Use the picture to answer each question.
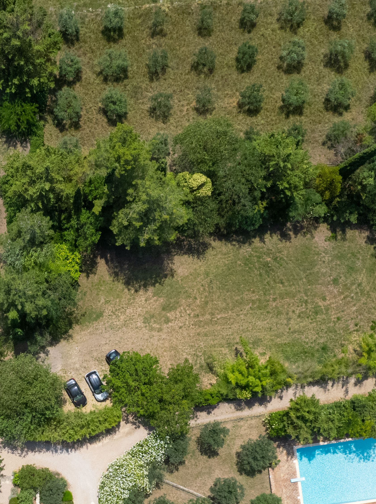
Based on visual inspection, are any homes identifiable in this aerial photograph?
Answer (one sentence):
No, no home can be seen from above.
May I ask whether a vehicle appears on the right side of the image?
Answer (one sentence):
No, on the right side of the image there is no vehicle.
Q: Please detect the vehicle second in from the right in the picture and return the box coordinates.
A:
[85,368,109,402]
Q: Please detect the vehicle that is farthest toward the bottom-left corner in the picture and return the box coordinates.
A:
[64,377,86,410]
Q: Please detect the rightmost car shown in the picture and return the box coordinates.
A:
[103,342,127,369]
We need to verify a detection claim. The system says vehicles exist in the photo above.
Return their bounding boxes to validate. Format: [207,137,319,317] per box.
[85,368,109,402]
[103,342,127,369]
[64,377,86,410]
